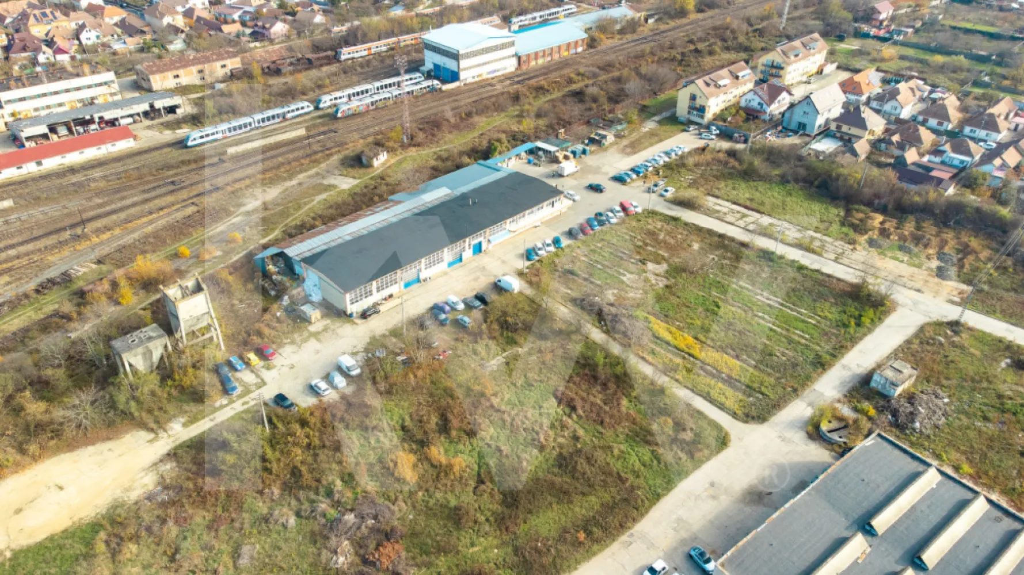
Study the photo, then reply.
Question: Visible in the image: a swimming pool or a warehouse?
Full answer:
It is a warehouse that can be seen here.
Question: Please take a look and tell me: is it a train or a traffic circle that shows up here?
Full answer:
This aerial view contains a train.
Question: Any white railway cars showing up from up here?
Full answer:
Yes, there's a white railway car down there.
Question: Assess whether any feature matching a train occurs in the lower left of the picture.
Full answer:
No, no train appears in the lower left of the picture.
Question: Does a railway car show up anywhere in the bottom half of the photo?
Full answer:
No, the scene shows no railway car in the bottom half of the photo.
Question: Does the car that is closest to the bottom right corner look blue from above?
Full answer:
Yes, the car that is closest to the bottom right corner appears blue.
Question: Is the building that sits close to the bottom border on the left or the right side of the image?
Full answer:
It is on the right.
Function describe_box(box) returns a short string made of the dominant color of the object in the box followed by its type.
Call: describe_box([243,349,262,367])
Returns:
yellow car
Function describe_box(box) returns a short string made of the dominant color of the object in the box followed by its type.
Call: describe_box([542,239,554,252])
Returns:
white vehicle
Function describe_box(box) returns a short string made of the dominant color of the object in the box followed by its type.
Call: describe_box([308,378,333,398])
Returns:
white car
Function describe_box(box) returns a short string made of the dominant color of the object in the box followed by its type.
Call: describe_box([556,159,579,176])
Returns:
white vehicle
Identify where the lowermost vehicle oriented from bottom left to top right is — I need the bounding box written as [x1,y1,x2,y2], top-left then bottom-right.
[640,552,675,575]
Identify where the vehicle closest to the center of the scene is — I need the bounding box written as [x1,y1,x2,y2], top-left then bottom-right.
[494,275,522,295]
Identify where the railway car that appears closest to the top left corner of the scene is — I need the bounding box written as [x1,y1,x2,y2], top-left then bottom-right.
[184,98,317,144]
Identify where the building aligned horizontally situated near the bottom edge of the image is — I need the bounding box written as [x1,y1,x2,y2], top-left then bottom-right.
[716,435,1024,575]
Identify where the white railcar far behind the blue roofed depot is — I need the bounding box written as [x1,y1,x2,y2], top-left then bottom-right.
[514,6,576,29]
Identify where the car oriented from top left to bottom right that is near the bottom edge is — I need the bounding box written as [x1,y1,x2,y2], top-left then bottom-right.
[685,544,719,575]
